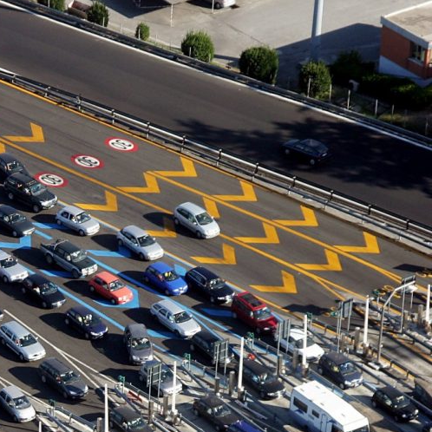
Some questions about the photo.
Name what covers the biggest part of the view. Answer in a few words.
paved ground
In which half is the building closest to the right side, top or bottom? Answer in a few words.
top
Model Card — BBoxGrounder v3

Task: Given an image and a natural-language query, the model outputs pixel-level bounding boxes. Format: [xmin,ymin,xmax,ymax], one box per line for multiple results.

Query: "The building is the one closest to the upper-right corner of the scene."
[380,1,432,88]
